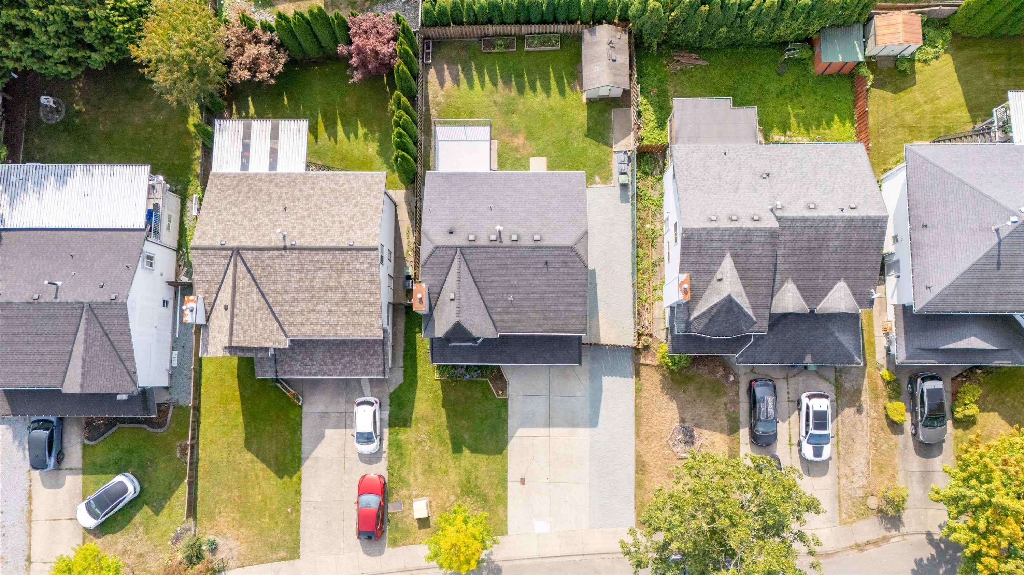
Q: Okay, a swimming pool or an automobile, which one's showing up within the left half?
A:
automobile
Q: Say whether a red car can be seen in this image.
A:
Yes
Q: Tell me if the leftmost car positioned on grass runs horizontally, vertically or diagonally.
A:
diagonally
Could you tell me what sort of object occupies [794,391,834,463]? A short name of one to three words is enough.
car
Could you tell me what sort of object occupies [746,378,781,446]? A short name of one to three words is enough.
car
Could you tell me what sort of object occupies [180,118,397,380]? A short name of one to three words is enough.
house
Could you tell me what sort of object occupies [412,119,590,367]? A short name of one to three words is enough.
house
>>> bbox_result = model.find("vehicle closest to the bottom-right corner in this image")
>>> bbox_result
[909,372,953,444]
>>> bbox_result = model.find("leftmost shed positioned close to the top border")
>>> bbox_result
[579,25,632,102]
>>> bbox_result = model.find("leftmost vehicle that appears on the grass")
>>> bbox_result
[79,472,145,527]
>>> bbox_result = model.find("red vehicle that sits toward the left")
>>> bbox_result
[355,472,389,542]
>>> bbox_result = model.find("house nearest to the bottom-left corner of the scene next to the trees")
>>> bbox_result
[0,164,180,419]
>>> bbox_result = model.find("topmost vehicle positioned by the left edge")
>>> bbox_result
[25,419,65,473]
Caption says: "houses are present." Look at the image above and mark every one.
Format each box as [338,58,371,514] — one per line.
[881,90,1024,367]
[0,164,180,419]
[412,119,590,367]
[662,95,886,367]
[180,118,397,380]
